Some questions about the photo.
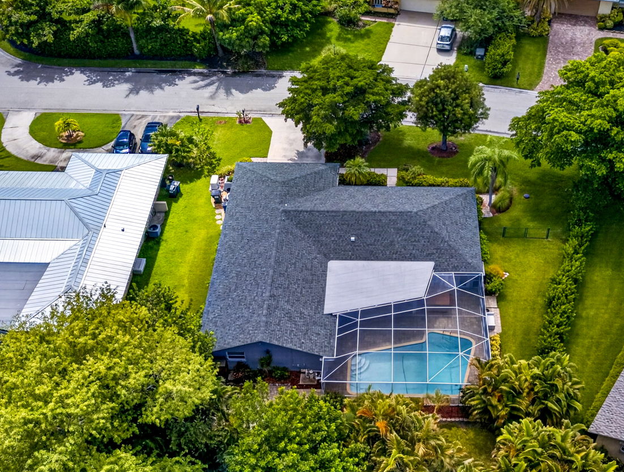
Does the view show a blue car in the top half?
Yes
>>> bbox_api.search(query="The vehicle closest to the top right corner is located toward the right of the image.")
[434,26,458,50]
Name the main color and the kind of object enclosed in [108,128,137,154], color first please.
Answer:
blue car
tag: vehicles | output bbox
[138,114,166,153]
[434,26,458,50]
[108,128,137,154]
